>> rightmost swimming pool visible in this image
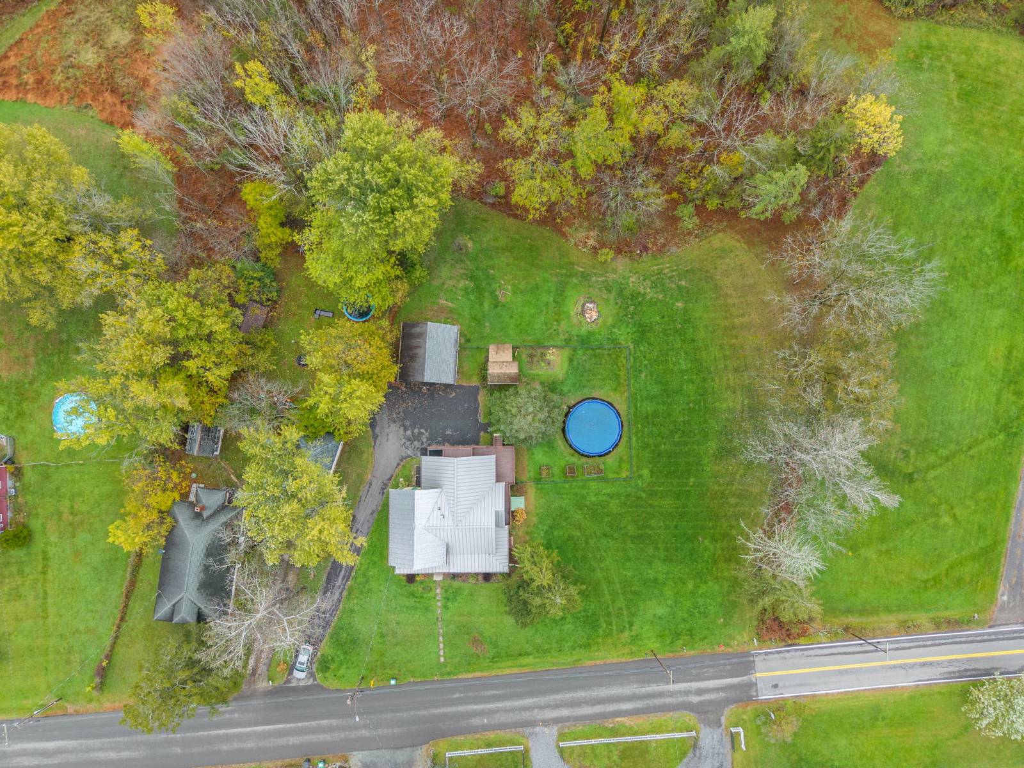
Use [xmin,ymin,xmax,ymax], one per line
[564,398,623,456]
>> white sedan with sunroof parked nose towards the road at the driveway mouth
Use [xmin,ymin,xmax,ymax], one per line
[293,642,314,679]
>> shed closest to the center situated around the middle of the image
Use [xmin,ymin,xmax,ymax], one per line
[487,344,518,384]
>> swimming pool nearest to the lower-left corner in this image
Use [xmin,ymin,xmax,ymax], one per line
[51,391,88,438]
